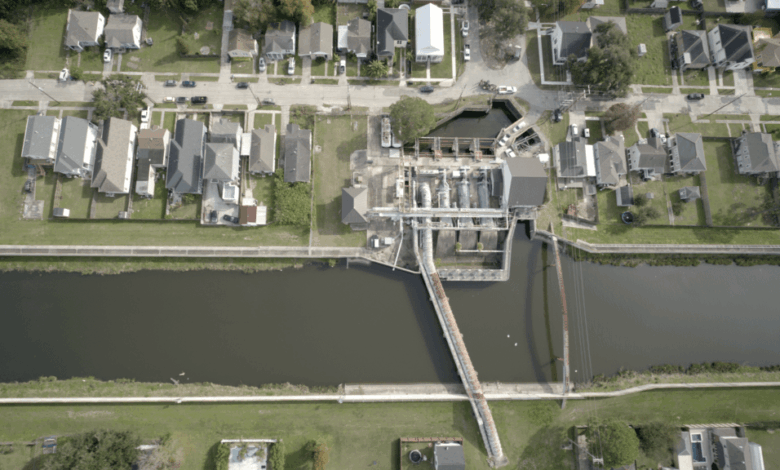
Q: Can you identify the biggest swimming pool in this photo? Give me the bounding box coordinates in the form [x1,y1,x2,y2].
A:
[692,442,708,464]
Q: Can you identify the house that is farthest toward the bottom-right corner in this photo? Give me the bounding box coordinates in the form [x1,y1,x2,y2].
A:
[715,434,763,470]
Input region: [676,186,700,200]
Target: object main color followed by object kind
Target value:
gray gazebo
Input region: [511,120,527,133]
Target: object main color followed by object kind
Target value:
white vehicle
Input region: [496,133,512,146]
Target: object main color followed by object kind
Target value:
white vehicle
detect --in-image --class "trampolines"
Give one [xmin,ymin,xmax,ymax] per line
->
[409,451,422,465]
[622,211,635,223]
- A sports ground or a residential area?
residential area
